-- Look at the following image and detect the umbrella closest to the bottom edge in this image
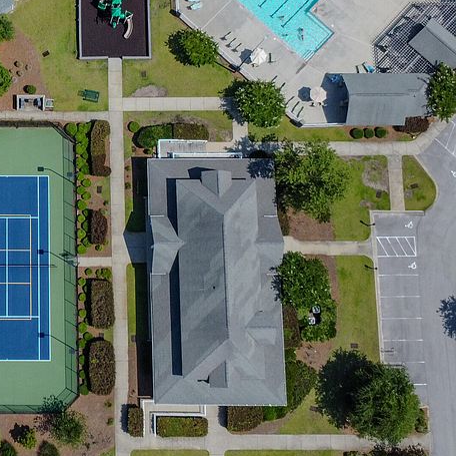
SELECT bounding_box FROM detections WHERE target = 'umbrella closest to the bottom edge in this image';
[308,85,327,104]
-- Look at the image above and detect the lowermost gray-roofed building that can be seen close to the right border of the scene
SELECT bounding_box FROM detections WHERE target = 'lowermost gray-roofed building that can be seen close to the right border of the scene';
[333,74,456,127]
